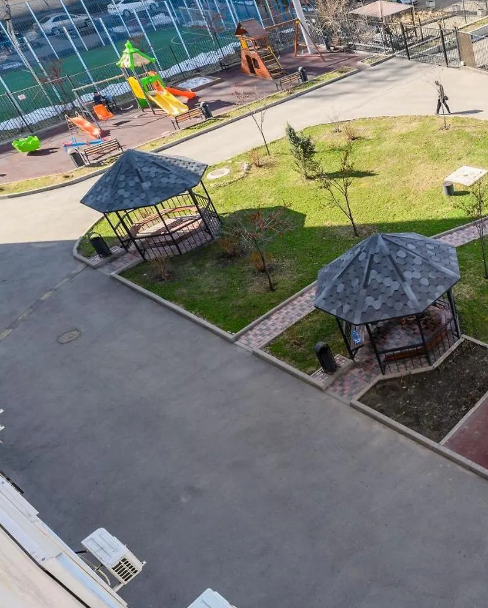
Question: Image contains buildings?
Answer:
Yes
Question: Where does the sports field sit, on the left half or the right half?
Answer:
left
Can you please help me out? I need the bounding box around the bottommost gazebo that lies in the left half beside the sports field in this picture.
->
[80,146,226,263]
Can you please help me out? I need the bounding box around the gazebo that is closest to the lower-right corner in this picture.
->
[314,230,465,378]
